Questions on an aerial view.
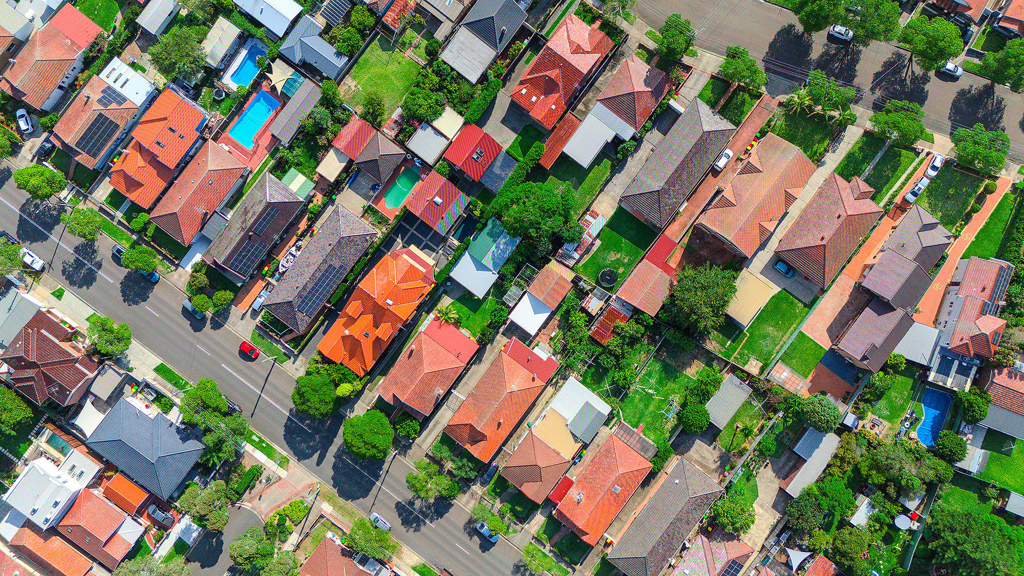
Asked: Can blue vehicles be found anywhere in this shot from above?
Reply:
Yes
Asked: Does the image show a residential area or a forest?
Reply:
residential area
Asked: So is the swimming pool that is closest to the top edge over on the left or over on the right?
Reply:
left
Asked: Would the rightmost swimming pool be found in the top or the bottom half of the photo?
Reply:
bottom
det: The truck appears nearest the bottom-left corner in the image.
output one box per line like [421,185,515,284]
[144,501,177,527]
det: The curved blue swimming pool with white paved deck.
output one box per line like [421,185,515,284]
[228,43,269,90]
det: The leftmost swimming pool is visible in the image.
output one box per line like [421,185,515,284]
[41,430,76,460]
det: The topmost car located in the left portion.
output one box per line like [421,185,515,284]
[17,107,35,137]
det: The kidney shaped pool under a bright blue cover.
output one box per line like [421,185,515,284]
[915,386,954,447]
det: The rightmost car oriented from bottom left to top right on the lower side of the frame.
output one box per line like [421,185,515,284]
[478,459,503,487]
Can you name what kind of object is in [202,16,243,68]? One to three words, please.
shed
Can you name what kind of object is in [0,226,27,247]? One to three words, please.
car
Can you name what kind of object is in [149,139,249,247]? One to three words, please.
house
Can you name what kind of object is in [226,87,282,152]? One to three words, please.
swimming pool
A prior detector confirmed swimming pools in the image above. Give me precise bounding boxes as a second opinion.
[448,209,481,245]
[915,386,954,447]
[226,87,282,152]
[382,162,422,211]
[228,43,269,90]
[41,430,76,460]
